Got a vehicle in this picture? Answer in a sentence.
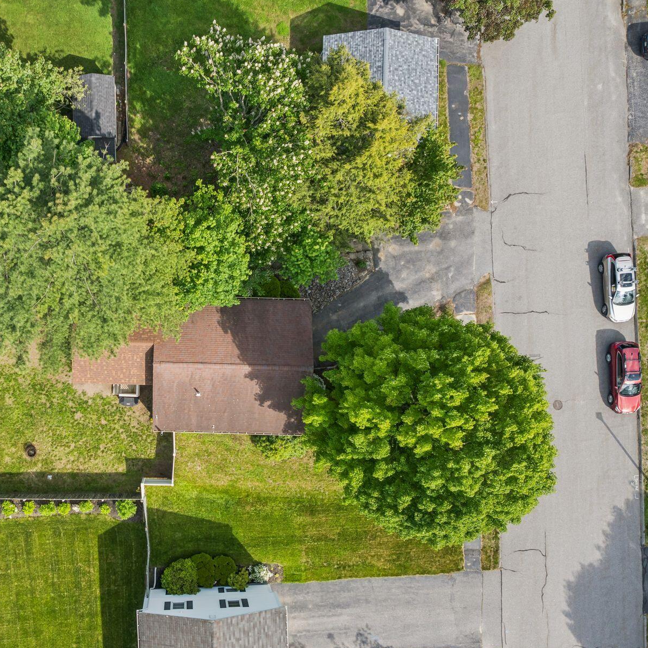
Yes, you can see a vehicle in this photo.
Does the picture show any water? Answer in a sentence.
No, the picture contains no water.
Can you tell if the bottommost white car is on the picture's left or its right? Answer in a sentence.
You can find the bottommost white car on the right side of the picture.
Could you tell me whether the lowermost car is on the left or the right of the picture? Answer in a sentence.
The lowermost car appears in the right half of the scene.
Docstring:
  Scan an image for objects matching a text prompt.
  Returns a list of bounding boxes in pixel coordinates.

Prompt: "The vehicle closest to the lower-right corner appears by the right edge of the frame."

[606,341,648,413]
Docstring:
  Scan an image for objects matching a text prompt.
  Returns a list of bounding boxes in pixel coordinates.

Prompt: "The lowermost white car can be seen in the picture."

[597,252,640,323]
